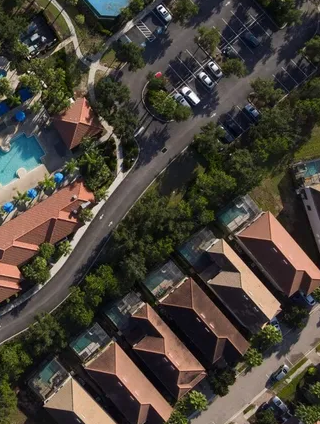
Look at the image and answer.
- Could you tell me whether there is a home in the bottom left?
Yes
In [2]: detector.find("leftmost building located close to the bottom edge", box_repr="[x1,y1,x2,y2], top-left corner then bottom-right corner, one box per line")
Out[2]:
[43,371,117,424]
